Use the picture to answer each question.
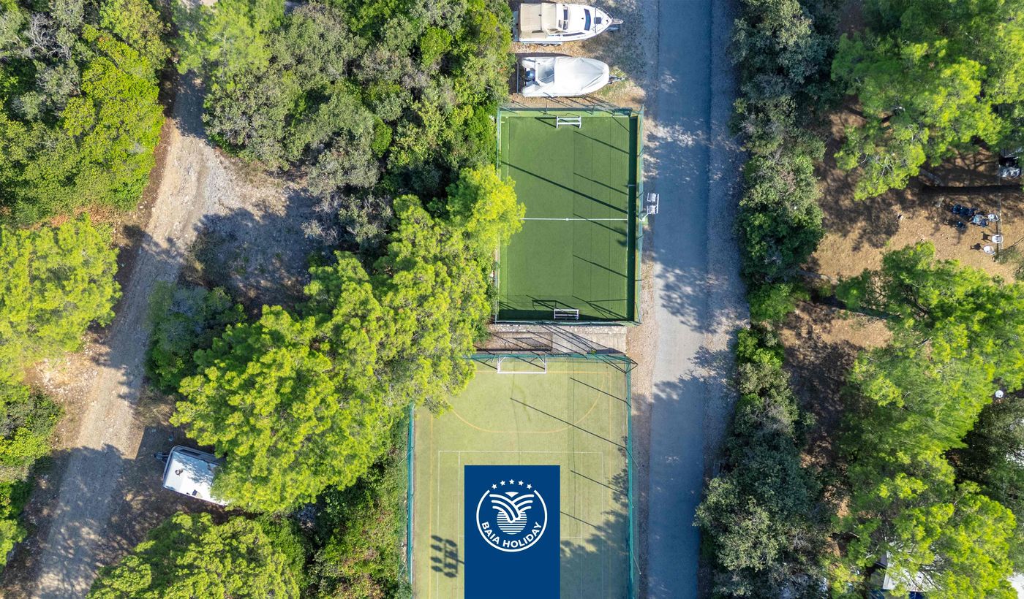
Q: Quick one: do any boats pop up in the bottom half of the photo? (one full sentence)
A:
No, no boat is visible in the bottom half of the photo.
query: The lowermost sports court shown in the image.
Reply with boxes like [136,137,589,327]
[412,359,629,599]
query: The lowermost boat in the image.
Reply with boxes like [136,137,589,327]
[524,58,610,97]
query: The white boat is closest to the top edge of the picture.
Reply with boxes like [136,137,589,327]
[513,4,622,42]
